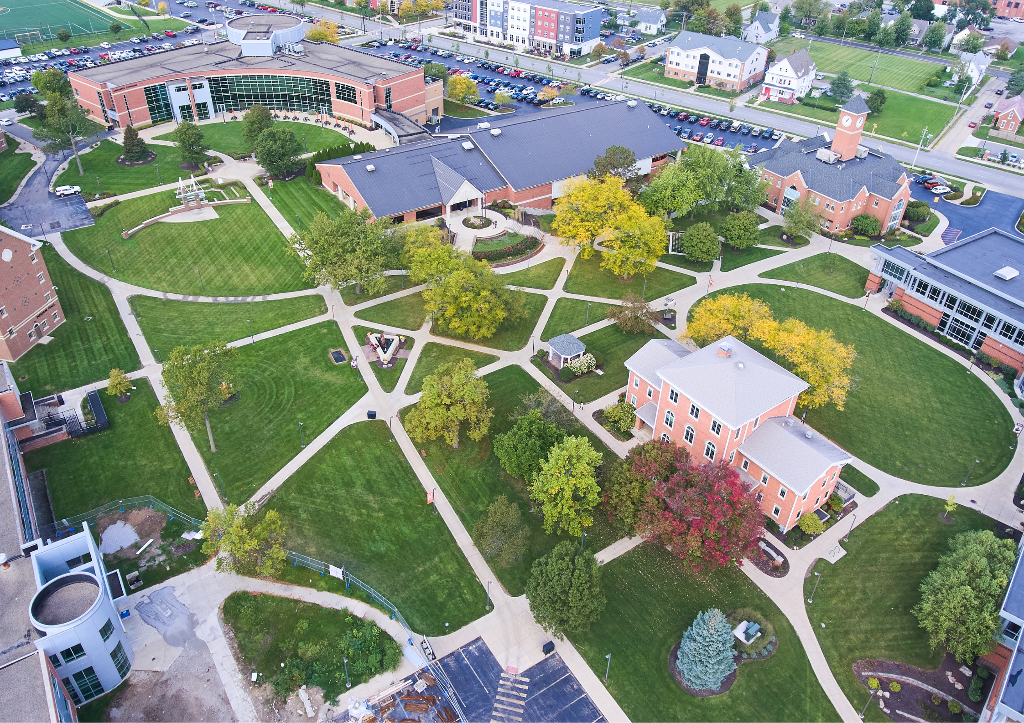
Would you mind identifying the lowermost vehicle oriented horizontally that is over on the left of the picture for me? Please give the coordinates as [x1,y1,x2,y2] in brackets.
[55,185,82,197]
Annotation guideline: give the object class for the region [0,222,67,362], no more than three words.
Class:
building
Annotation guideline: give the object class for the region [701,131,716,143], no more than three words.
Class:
vehicle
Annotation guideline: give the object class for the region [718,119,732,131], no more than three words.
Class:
vehicle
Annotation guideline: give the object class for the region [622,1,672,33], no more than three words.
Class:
house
